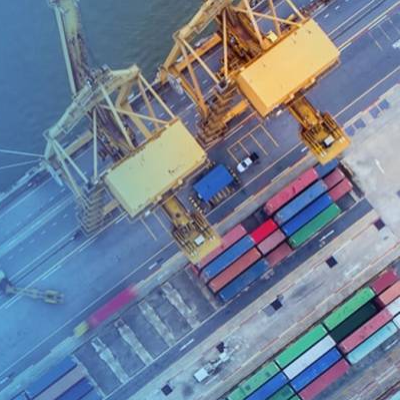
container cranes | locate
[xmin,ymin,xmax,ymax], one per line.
[33,0,223,266]
[144,0,355,166]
